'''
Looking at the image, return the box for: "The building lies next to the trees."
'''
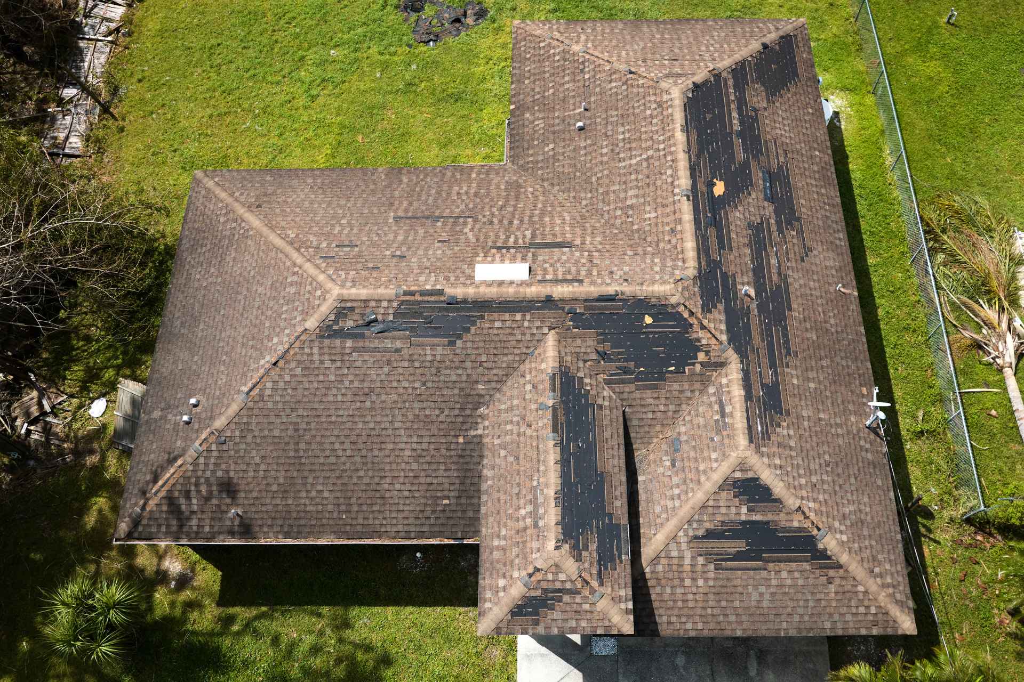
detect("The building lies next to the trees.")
[114,18,917,638]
